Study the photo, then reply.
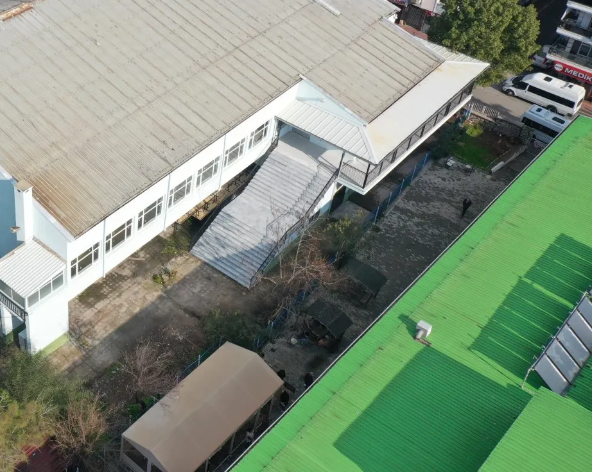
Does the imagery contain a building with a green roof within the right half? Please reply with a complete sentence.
Yes, the scene does show a building with a green roof within the right half.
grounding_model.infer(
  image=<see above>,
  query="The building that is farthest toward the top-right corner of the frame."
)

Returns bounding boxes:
[544,0,592,99]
